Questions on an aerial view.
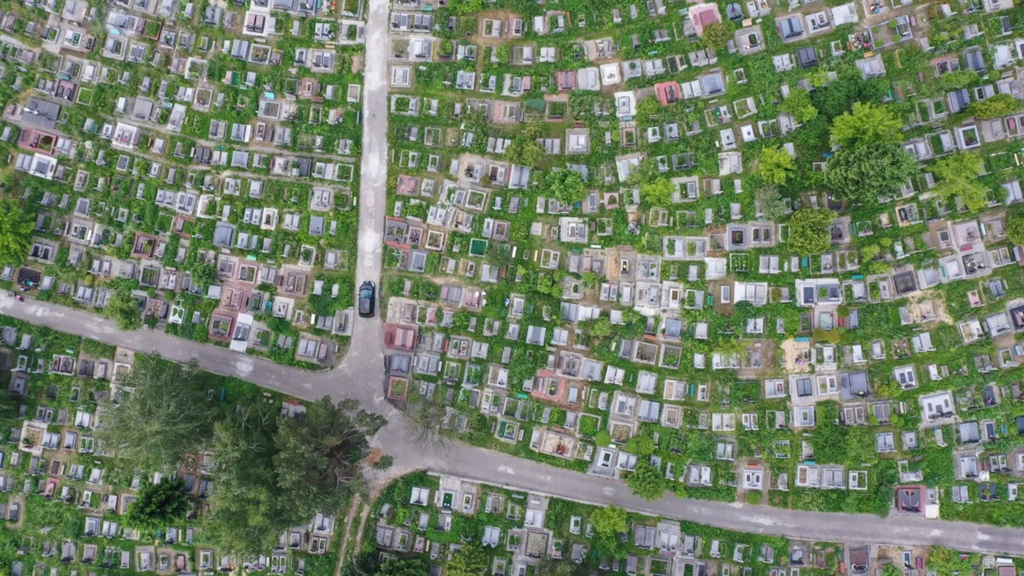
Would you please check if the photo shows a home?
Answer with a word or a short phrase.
No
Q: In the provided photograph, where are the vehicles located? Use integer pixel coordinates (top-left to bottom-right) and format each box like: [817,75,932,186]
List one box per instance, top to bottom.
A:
[357,281,376,319]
